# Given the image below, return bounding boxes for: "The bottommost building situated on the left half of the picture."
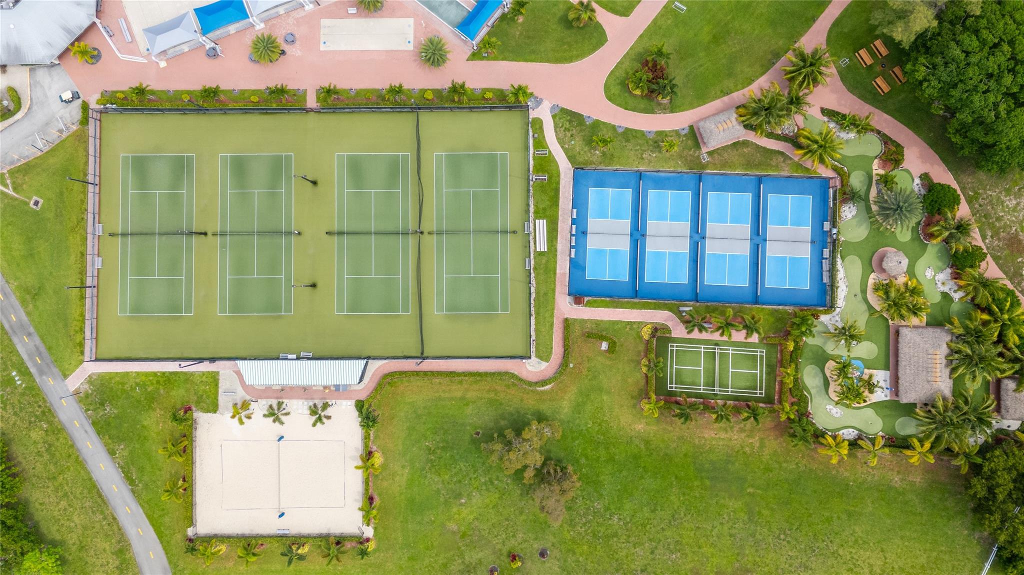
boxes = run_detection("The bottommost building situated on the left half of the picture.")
[235,359,369,385]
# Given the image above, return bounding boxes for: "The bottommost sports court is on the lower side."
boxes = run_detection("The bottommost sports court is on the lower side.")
[221,440,345,510]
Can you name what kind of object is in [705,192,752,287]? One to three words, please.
sports court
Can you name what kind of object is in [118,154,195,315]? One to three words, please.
tennis court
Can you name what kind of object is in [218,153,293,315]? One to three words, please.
tennis court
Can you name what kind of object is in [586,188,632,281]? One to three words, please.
sports court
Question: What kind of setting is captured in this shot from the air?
sports ground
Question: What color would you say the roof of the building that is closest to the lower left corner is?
white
